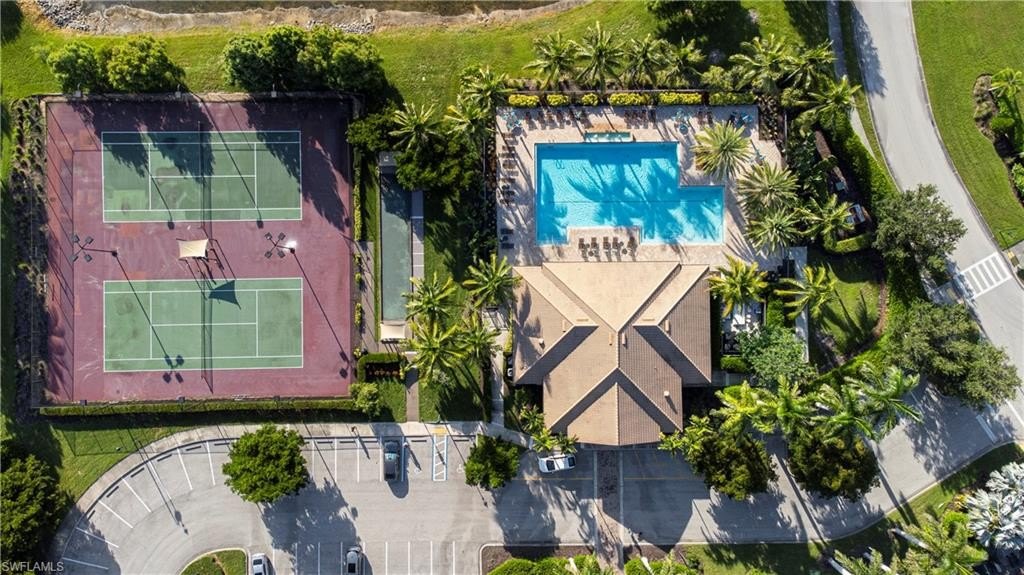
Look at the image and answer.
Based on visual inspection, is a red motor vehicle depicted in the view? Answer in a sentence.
No, the frame has no red motor vehicle in it.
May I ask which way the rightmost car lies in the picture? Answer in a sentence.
Seen from above, the rightmost car lies from side to side.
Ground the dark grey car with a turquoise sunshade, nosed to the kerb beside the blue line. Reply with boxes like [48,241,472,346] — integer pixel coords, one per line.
[382,439,401,480]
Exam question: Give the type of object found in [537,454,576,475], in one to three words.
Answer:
car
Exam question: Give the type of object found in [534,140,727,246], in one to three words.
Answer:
swimming pool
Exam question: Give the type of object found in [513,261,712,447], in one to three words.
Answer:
building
